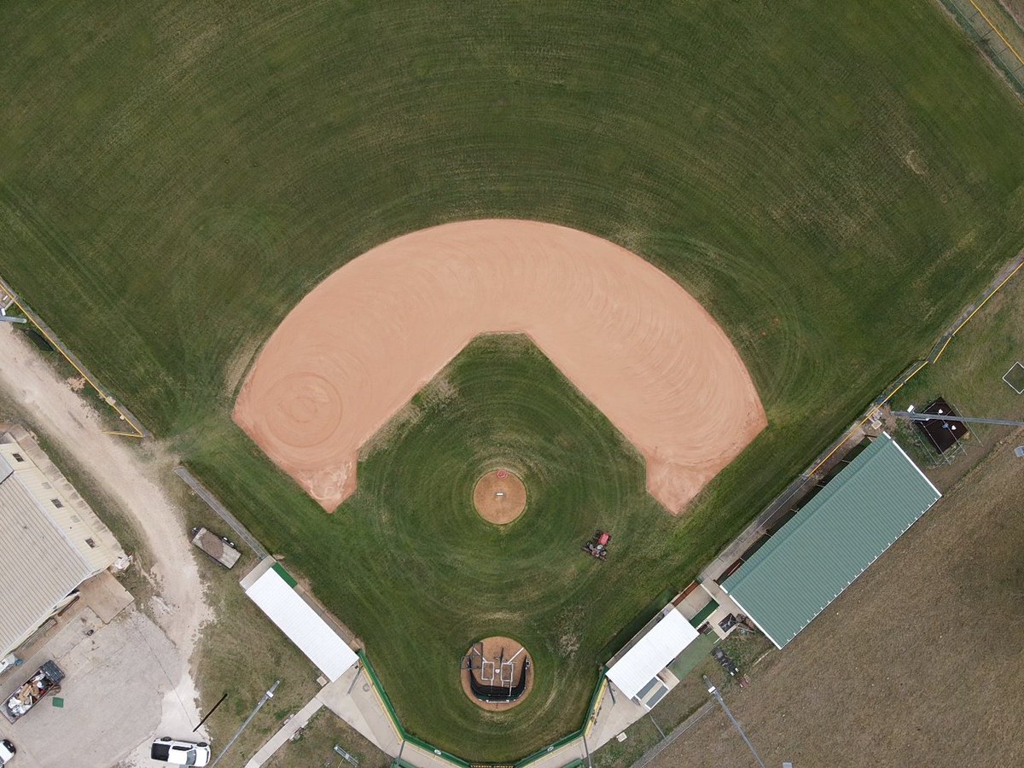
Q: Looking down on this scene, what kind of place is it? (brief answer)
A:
sports ground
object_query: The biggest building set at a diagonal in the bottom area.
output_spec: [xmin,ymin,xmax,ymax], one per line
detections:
[712,430,942,649]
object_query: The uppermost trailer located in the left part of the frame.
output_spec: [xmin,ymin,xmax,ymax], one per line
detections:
[185,527,239,571]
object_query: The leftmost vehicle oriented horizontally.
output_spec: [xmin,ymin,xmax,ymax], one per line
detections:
[149,737,213,768]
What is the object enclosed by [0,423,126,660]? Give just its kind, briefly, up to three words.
building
